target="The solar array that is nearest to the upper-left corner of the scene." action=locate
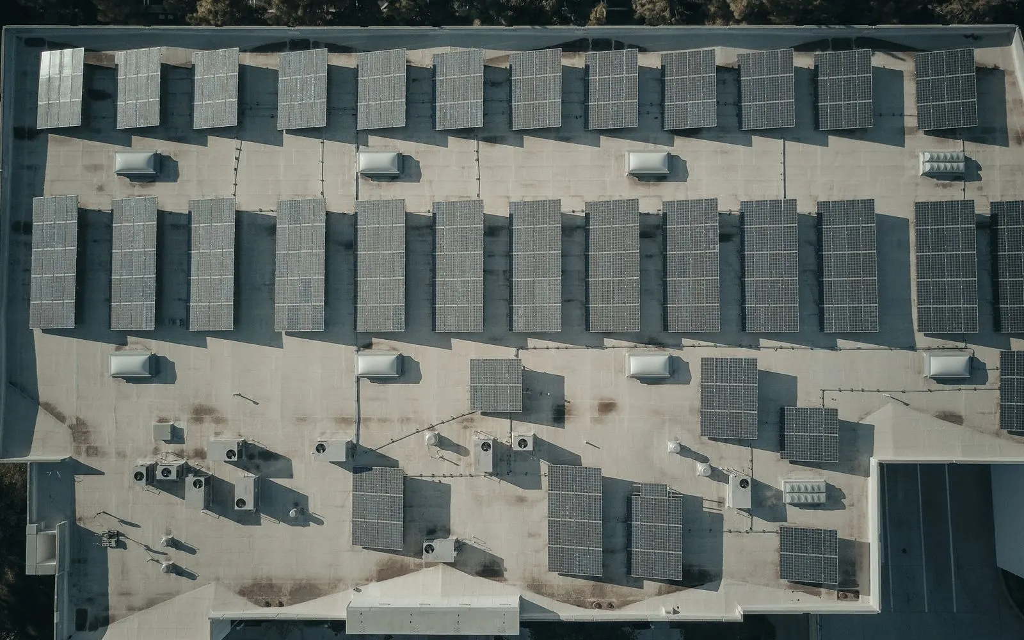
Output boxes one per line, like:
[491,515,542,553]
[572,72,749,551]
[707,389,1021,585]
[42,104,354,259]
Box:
[38,46,87,129]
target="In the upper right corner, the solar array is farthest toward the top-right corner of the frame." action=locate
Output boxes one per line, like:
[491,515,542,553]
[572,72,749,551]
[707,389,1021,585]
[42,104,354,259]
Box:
[916,48,978,131]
